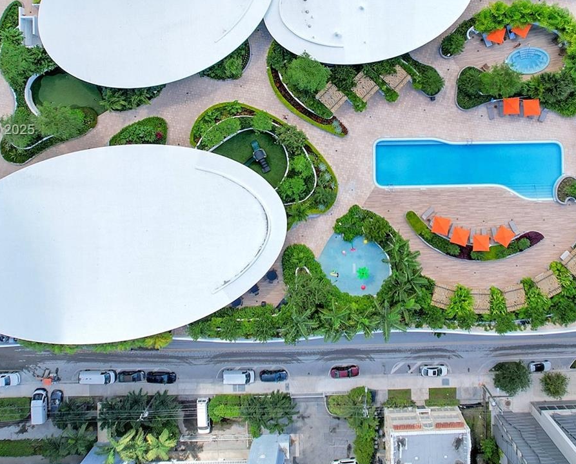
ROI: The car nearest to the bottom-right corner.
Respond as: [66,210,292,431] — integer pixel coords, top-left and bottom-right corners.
[527,359,551,373]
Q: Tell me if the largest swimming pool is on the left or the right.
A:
right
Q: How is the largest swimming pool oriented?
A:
from left to right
